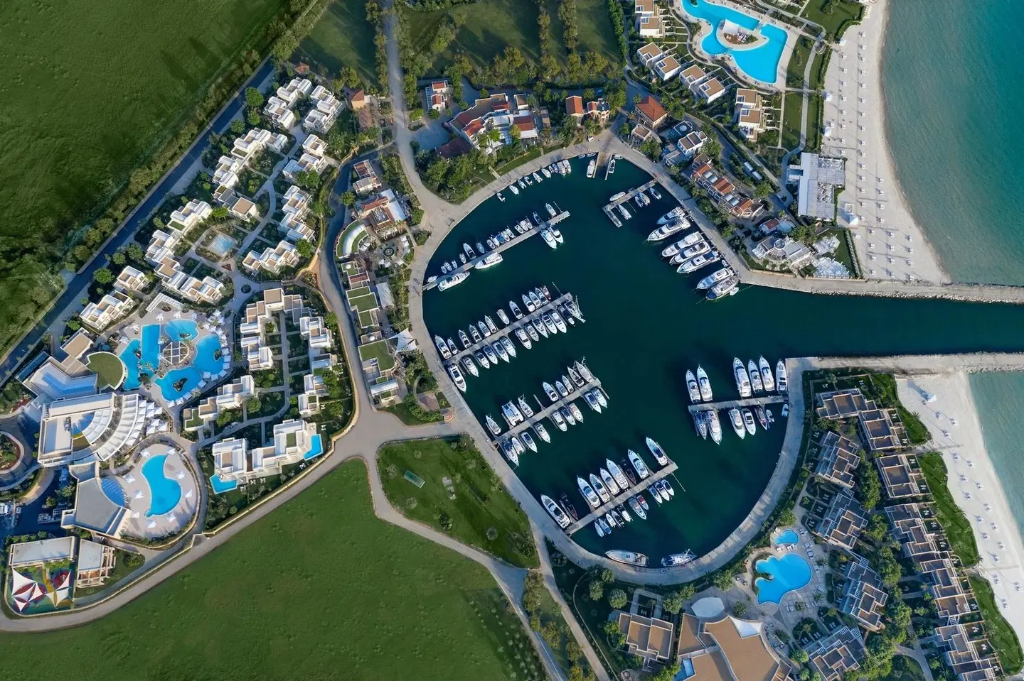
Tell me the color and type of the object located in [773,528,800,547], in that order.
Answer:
blue swimming pool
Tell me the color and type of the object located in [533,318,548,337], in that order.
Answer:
white boat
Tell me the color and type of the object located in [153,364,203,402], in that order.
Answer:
blue swimming pool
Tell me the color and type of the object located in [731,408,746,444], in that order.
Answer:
white boat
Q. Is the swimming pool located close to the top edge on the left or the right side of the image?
right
